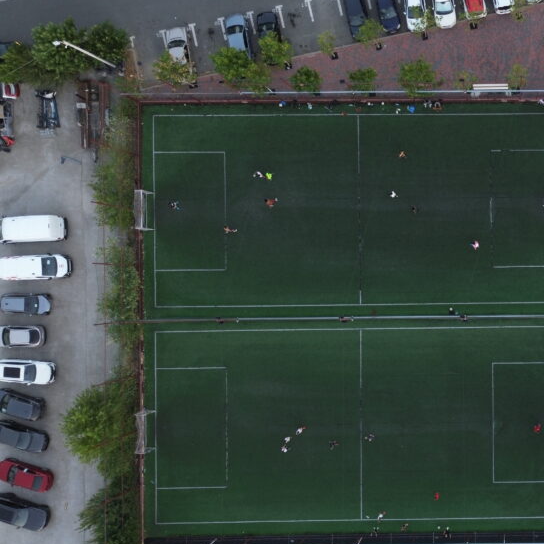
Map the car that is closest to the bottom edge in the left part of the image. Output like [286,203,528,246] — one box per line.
[0,495,52,529]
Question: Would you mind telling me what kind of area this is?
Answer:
sports ground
